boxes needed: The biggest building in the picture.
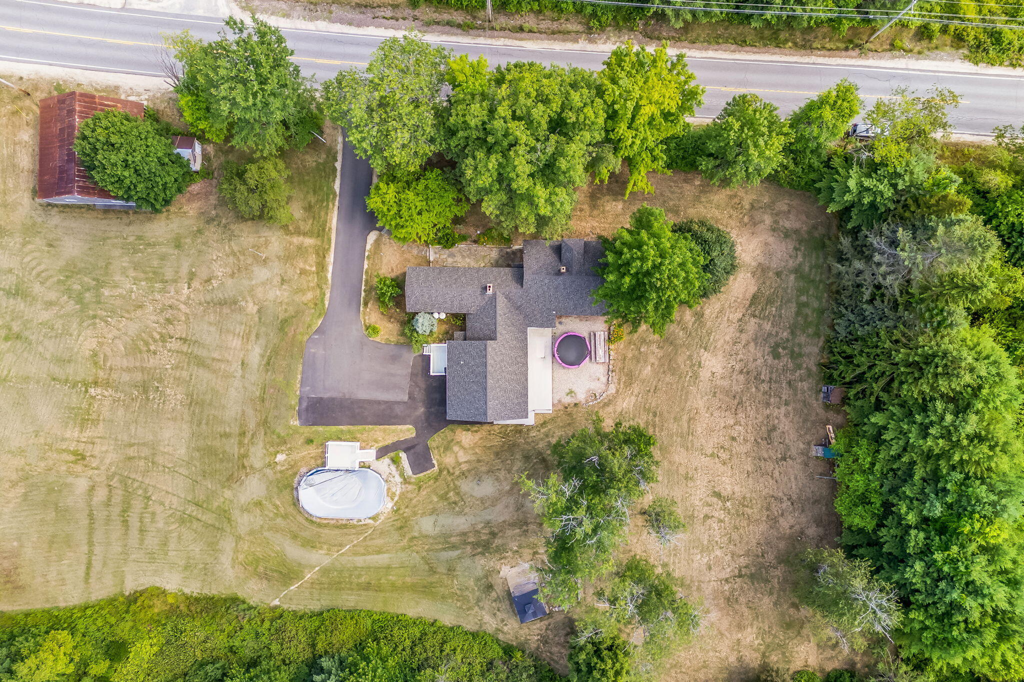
[405,239,611,422]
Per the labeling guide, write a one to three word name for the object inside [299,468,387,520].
swimming pool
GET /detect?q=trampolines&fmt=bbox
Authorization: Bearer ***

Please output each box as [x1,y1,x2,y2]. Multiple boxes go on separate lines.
[554,332,591,369]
